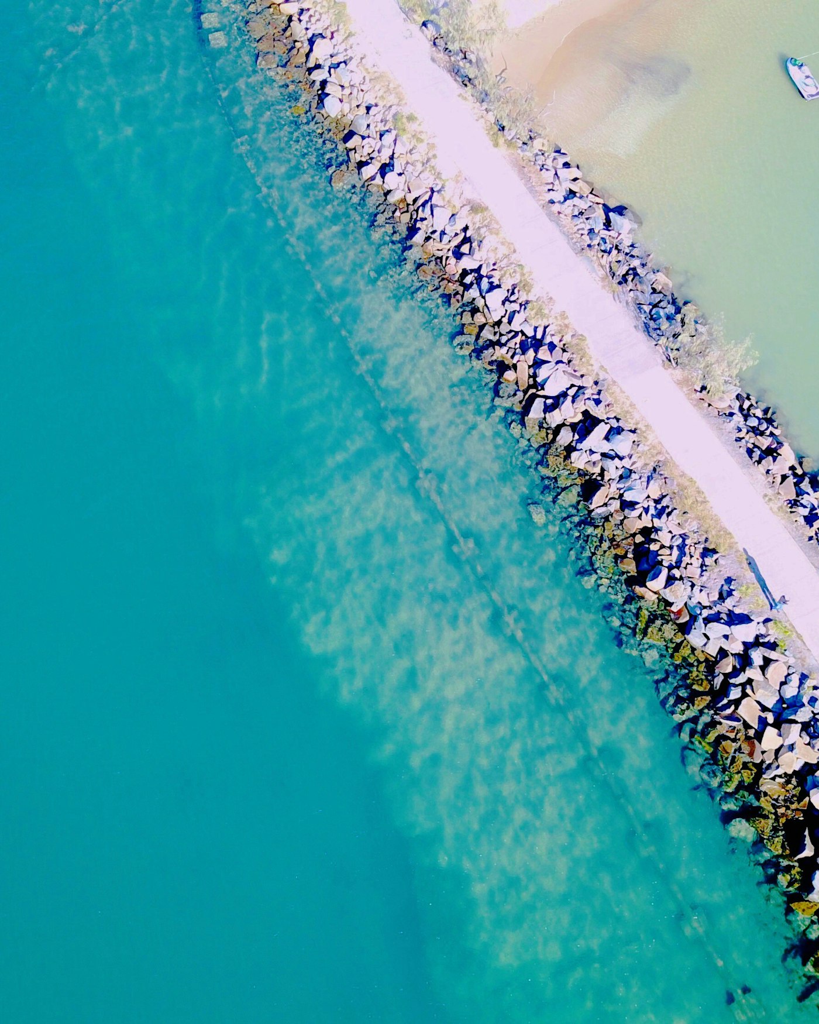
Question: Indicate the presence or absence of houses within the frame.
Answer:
No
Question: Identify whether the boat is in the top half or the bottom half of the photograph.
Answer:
top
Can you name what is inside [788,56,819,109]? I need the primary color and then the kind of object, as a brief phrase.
white boat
